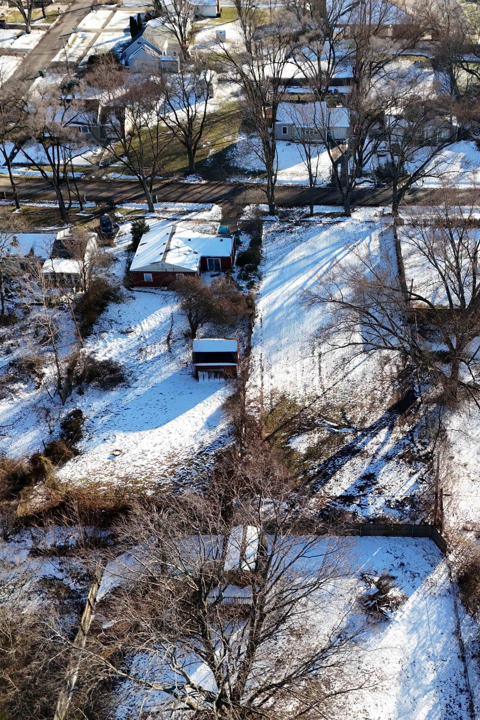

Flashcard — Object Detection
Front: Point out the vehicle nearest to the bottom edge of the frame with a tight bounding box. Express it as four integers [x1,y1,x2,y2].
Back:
[96,217,116,239]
